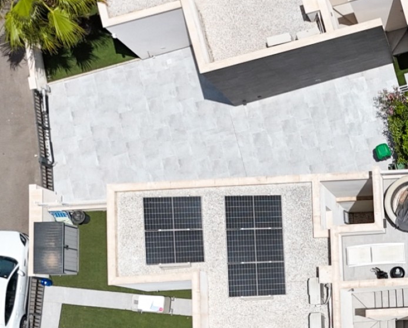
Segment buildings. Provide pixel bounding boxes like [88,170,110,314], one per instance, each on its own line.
[107,166,408,328]
[97,0,408,105]
[33,222,83,276]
